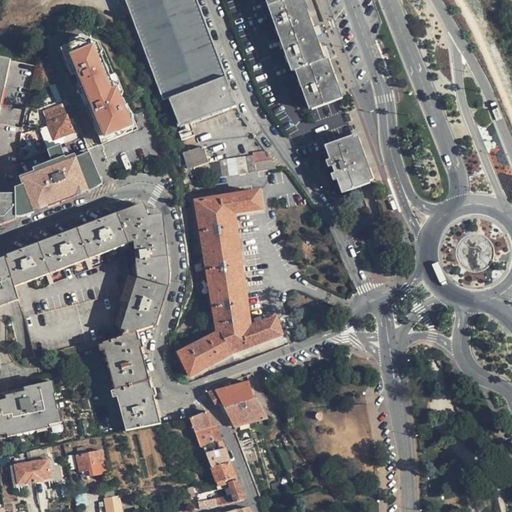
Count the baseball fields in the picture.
0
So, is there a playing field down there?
No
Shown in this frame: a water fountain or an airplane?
water fountain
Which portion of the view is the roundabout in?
right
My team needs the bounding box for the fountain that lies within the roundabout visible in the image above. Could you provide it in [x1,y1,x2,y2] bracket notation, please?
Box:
[456,232,495,272]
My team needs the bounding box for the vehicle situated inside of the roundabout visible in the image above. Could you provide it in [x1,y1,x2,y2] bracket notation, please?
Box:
[435,262,448,284]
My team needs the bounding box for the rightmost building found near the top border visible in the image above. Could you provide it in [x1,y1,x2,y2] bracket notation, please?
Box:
[264,0,342,111]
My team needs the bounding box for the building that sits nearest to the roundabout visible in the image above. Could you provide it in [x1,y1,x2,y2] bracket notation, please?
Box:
[324,134,374,192]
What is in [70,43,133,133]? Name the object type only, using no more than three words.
house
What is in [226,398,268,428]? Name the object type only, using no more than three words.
house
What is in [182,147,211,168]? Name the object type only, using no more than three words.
shed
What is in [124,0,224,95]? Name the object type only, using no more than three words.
building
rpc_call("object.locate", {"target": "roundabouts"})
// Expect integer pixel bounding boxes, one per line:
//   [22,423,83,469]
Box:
[417,194,512,311]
